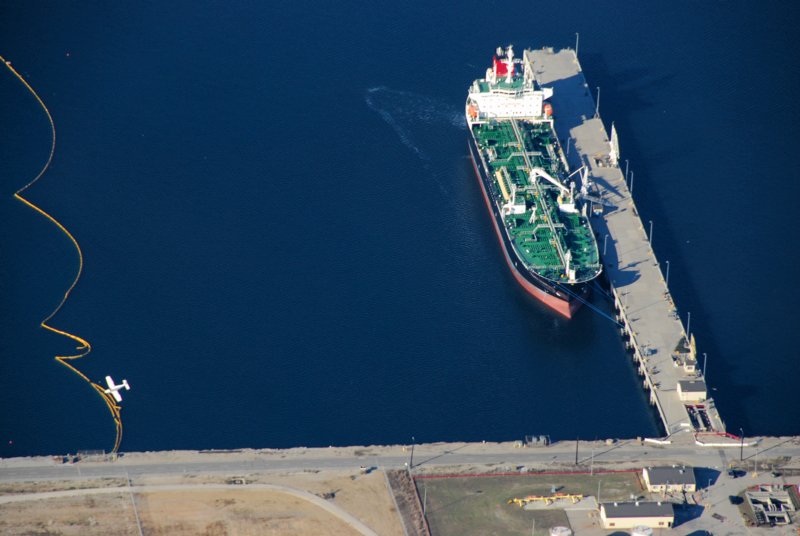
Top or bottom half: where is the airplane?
bottom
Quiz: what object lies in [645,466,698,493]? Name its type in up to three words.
building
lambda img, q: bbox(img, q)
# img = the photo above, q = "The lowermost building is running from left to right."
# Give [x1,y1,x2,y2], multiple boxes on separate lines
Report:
[599,500,675,531]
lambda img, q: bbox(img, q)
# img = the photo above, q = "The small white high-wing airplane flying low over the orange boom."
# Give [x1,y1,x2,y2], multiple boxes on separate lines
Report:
[105,376,130,398]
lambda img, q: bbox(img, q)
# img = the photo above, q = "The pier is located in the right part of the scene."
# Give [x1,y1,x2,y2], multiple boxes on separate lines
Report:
[523,46,727,441]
